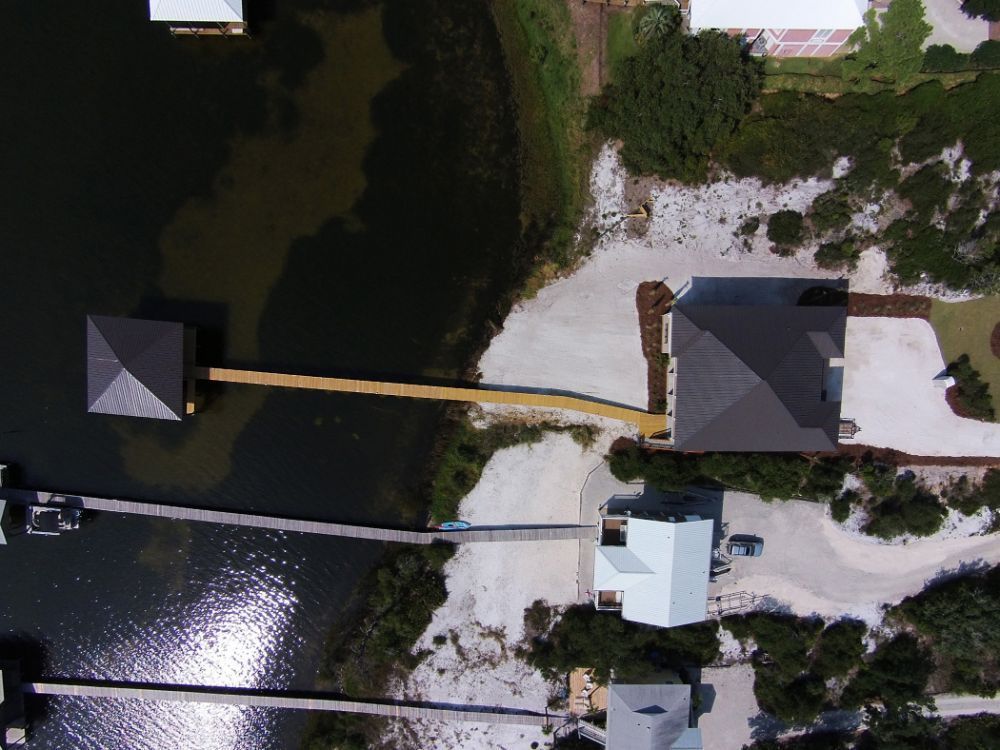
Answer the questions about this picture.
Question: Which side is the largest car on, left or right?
right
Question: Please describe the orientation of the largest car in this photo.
from left to right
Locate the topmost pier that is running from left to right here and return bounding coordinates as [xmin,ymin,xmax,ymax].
[192,367,639,430]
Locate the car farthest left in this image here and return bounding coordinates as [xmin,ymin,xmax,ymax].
[727,541,764,561]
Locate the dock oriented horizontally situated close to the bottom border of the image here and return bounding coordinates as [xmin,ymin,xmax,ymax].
[27,680,575,729]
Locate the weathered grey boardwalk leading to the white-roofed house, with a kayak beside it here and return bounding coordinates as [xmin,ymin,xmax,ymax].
[0,488,595,545]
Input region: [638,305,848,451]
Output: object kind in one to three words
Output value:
house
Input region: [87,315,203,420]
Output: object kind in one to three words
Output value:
building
